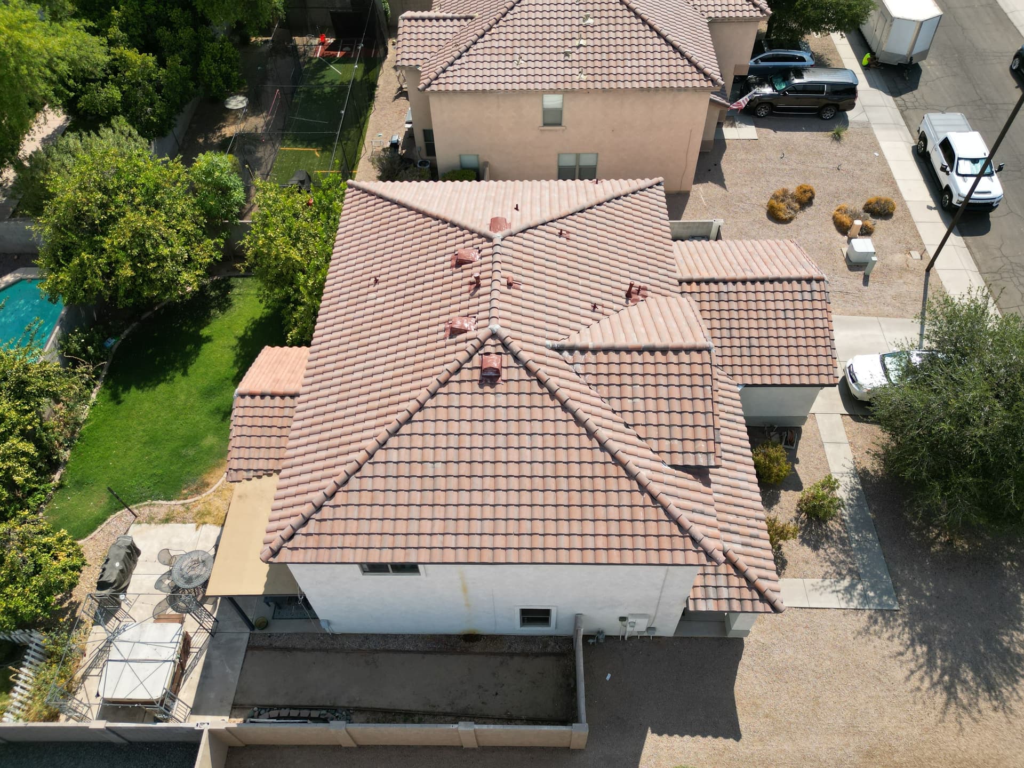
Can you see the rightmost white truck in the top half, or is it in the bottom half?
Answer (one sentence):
The rightmost white truck is in the top half of the image.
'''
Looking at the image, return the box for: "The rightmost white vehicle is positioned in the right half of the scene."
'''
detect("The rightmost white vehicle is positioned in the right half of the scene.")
[918,117,1006,211]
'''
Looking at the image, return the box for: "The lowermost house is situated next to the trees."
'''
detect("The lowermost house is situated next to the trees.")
[205,174,841,640]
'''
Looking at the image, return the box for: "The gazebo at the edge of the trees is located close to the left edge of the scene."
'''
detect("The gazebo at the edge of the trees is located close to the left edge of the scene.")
[45,592,214,722]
